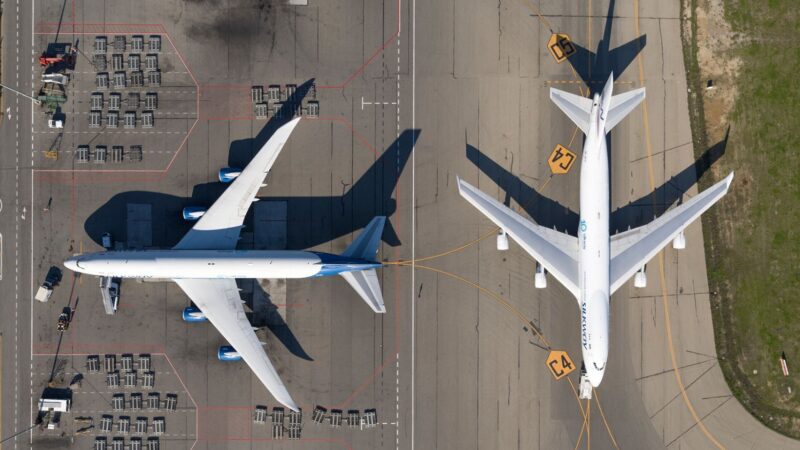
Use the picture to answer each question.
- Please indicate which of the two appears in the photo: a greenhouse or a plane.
plane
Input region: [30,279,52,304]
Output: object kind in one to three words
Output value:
truck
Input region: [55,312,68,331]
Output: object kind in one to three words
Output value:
vehicle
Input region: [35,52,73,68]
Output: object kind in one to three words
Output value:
vehicle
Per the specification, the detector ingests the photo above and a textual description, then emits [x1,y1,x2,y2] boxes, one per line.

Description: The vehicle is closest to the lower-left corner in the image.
[35,400,65,431]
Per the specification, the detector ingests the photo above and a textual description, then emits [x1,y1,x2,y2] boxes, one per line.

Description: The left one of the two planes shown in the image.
[64,117,387,411]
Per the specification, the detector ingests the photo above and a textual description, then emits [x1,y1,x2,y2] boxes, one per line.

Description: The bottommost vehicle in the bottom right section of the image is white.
[579,377,592,398]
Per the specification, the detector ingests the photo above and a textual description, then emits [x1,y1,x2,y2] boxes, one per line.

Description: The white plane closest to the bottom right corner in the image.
[459,73,736,387]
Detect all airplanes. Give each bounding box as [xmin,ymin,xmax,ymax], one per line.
[459,73,736,387]
[64,117,387,411]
